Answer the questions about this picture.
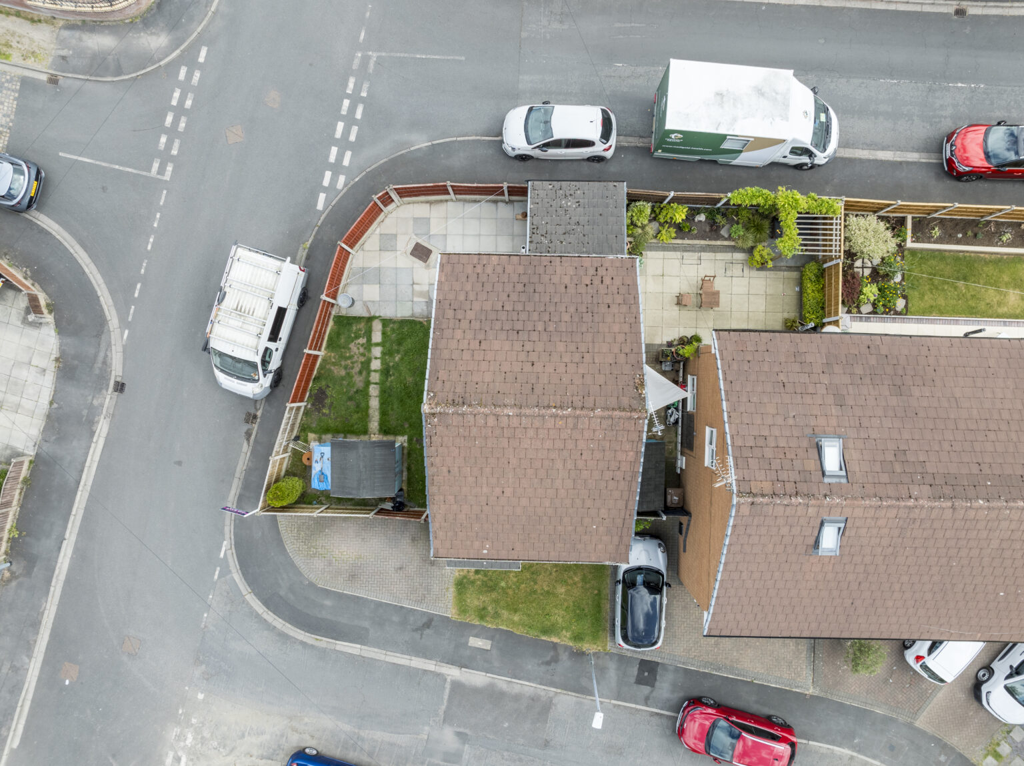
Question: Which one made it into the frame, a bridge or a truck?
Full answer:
Visible in the photo is a truck.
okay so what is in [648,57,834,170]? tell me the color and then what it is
white truck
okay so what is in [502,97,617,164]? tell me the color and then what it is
white car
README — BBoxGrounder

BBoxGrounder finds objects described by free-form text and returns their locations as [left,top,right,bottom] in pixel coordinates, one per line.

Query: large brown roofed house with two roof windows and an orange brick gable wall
[677,308,1024,647]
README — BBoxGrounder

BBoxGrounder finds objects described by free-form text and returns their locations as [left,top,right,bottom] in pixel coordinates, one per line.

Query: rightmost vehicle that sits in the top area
[936,114,1024,184]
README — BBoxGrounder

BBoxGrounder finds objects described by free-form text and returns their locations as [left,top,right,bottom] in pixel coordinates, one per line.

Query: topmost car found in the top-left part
[0,147,53,215]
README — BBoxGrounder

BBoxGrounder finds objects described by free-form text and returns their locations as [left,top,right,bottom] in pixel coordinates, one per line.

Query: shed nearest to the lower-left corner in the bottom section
[330,439,403,500]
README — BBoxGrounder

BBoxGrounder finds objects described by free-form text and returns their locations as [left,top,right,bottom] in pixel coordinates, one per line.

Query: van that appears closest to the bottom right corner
[972,646,1024,730]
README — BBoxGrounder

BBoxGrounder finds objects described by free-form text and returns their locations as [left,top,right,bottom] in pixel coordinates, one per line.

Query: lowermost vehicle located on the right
[673,694,801,766]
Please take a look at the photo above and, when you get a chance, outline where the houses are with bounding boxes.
[677,308,1024,647]
[407,178,663,575]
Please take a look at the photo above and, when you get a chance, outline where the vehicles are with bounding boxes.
[902,644,991,683]
[502,97,617,164]
[0,147,53,215]
[648,57,834,170]
[673,694,801,766]
[972,646,1024,730]
[281,746,353,766]
[208,245,310,399]
[936,114,1024,184]
[610,533,673,653]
